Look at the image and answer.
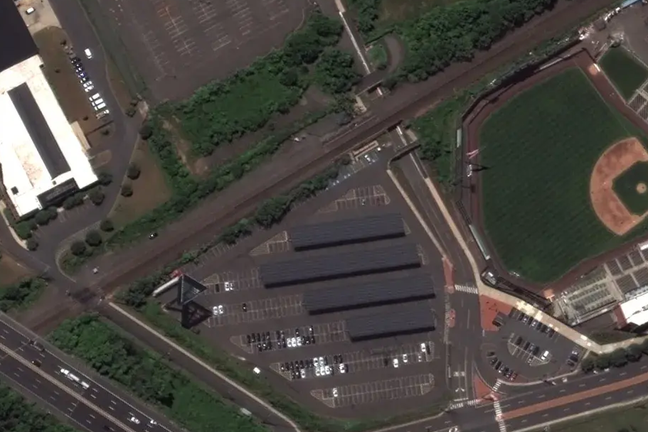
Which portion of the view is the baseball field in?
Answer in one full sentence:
The baseball field is located in the right region of the scene.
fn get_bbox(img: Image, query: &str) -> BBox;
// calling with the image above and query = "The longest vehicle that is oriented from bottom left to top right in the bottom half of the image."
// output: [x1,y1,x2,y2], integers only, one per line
[153,277,179,294]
